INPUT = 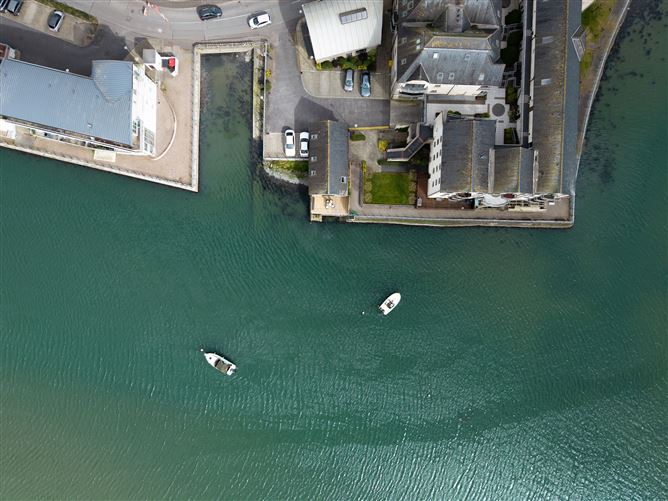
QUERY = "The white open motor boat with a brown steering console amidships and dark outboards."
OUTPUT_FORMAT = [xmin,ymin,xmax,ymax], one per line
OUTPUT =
[379,294,401,315]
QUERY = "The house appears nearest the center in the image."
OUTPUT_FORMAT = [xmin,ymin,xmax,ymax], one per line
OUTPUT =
[309,121,350,197]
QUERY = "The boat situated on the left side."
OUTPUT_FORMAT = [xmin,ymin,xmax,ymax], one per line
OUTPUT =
[204,354,235,375]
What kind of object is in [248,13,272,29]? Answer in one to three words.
car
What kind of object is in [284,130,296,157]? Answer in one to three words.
vehicle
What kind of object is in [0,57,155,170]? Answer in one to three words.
building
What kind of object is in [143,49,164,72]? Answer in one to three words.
shed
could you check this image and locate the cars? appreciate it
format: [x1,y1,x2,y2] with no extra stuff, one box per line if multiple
[196,4,221,20]
[248,13,272,29]
[359,72,372,98]
[284,130,296,157]
[48,7,66,32]
[298,132,309,157]
[4,0,24,18]
[343,70,354,93]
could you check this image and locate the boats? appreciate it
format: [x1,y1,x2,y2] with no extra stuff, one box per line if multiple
[379,294,401,315]
[204,354,235,375]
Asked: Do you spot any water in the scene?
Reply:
Yes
